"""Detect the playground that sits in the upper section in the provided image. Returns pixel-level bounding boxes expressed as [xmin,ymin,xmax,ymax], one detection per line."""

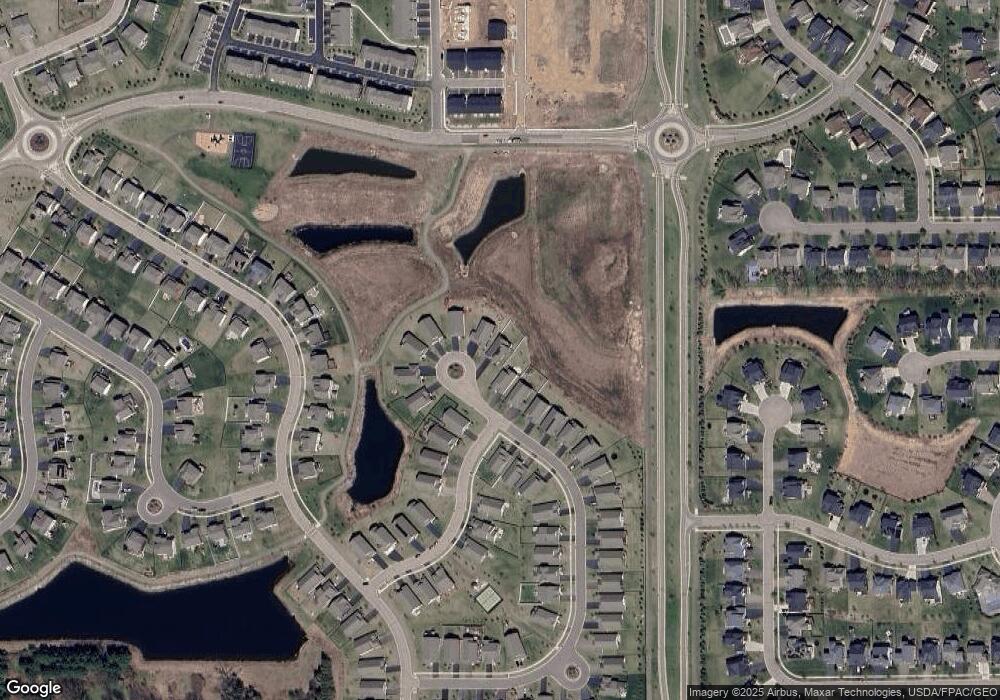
[194,131,233,153]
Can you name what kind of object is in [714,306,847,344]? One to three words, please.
pond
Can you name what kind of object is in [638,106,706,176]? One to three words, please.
roundabout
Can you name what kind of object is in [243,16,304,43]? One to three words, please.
house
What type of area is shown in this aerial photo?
residential area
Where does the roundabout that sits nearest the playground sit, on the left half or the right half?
left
